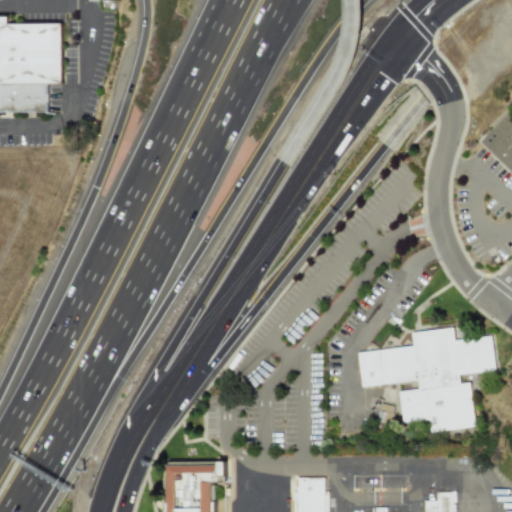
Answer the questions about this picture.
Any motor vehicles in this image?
No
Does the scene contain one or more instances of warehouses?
No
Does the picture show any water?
No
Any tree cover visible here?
No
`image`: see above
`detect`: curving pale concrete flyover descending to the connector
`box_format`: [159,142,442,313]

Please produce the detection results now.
[275,0,361,164]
